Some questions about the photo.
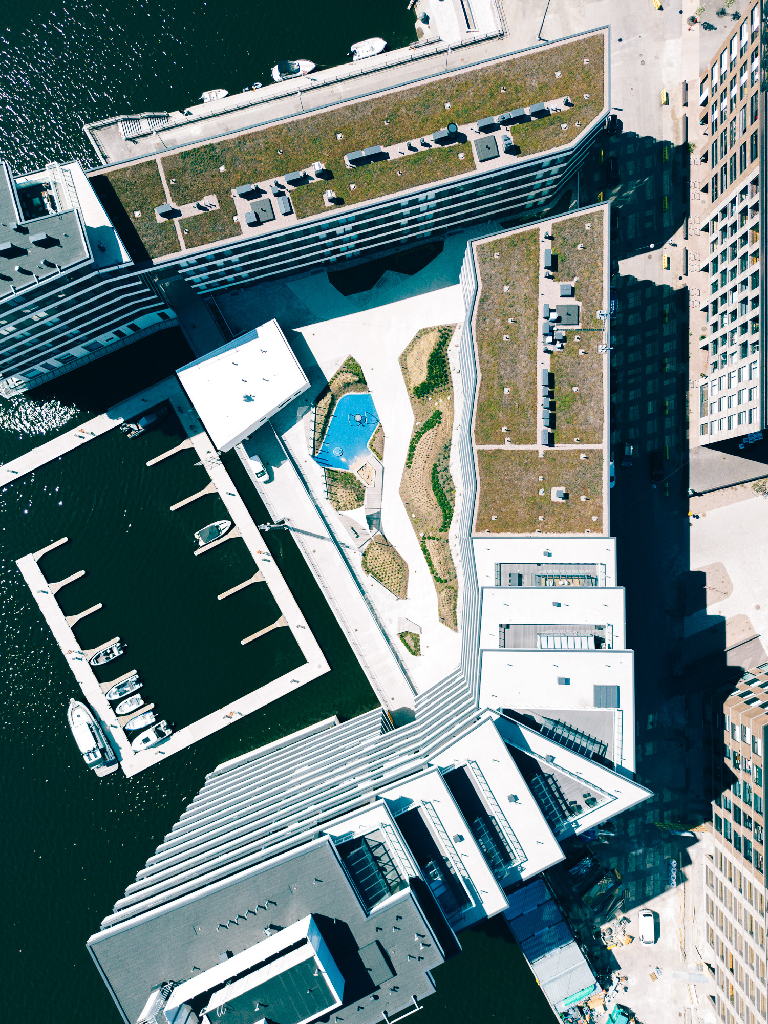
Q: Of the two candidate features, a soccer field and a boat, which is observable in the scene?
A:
boat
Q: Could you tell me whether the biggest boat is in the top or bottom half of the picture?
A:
bottom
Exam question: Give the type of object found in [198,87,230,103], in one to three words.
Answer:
boat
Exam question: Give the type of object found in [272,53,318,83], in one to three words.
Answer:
boat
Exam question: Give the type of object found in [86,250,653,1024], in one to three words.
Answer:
building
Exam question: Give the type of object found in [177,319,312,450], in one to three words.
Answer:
building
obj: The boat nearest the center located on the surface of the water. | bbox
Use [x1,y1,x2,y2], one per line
[192,514,230,549]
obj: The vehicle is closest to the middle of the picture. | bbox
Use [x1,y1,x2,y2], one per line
[248,451,271,484]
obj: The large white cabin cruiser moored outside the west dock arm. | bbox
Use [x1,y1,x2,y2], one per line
[71,697,120,776]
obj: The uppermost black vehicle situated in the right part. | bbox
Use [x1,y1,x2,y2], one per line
[606,114,619,137]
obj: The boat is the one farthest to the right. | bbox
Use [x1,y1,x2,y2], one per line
[350,38,386,60]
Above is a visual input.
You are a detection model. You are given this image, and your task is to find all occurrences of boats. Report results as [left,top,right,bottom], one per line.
[272,53,318,83]
[121,401,166,442]
[350,38,386,60]
[132,717,172,755]
[125,706,157,737]
[71,697,120,776]
[198,87,230,103]
[246,83,263,91]
[106,670,144,708]
[116,688,146,720]
[91,639,125,670]
[192,514,230,549]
